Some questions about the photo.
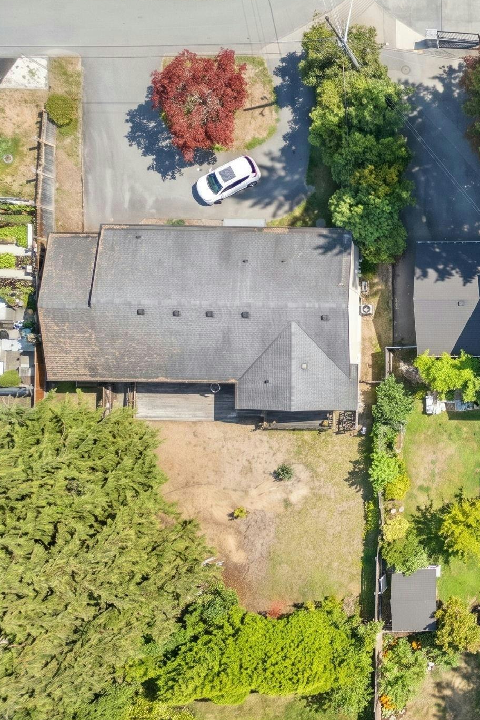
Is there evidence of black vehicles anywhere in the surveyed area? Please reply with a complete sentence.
No, there appears to be no black vehicle in this shot.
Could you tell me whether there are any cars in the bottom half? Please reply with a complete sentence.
No, no car appears in the bottom half.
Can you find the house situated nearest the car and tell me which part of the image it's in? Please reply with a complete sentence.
Look in the center portion of the view to spot the house situated nearest the car.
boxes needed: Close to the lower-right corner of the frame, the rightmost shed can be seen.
[391,565,440,633]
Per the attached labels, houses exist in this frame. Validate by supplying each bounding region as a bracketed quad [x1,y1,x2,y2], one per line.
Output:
[37,225,363,411]
[413,241,480,358]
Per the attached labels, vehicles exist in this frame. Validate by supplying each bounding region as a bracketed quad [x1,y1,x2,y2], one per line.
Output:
[195,157,257,204]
